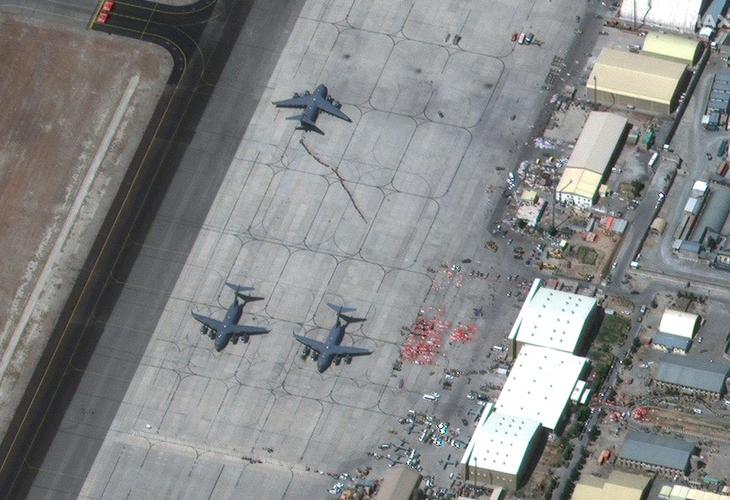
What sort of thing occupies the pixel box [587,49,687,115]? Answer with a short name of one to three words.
hangar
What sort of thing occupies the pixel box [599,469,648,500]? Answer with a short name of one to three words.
building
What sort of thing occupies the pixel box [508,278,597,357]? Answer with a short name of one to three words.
hangar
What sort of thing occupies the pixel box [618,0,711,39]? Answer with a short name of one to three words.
building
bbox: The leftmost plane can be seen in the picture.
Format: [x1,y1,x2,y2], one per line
[192,280,272,352]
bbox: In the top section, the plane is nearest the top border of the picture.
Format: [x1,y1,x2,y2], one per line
[270,83,349,128]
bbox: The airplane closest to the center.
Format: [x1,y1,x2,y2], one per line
[294,302,373,373]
